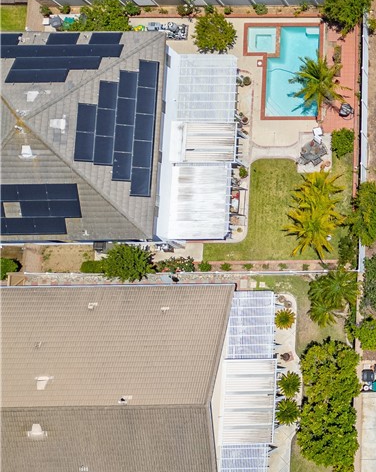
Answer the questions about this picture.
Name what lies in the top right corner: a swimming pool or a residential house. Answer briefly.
swimming pool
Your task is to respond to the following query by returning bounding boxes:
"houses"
[0,283,235,472]
[0,30,184,247]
